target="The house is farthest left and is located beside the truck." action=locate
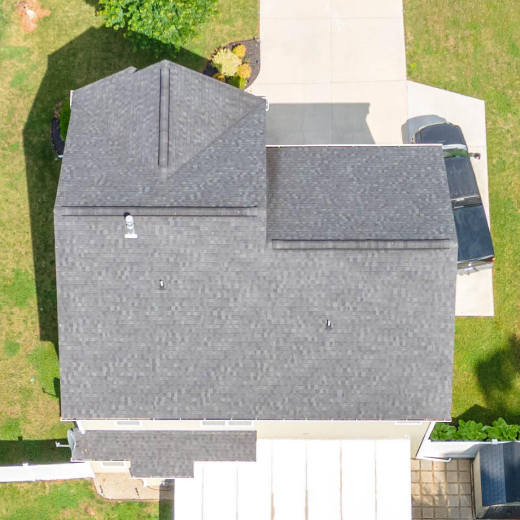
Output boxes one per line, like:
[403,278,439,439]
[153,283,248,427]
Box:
[55,60,460,494]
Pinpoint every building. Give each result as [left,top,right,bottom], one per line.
[55,60,460,494]
[470,441,520,518]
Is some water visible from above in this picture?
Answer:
No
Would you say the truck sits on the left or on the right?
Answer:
right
